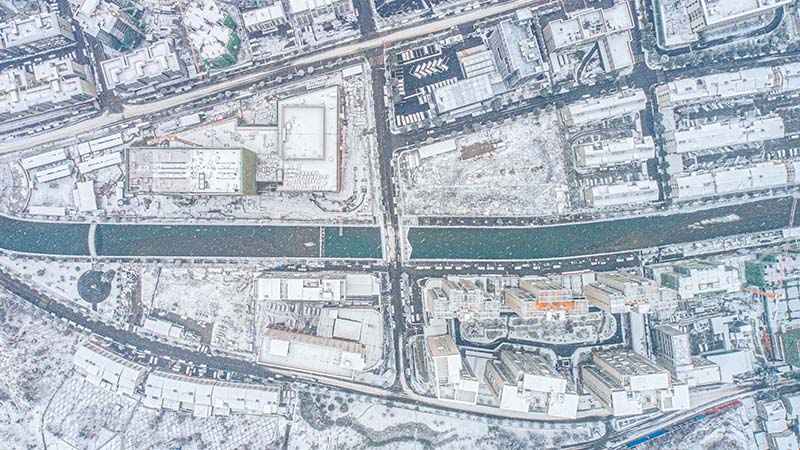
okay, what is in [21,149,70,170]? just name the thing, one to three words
shed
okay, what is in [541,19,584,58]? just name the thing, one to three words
building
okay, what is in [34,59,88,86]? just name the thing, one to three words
building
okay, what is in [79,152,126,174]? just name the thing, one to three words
shed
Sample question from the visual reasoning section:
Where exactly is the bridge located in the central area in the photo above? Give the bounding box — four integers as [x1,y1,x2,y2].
[381,225,412,260]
